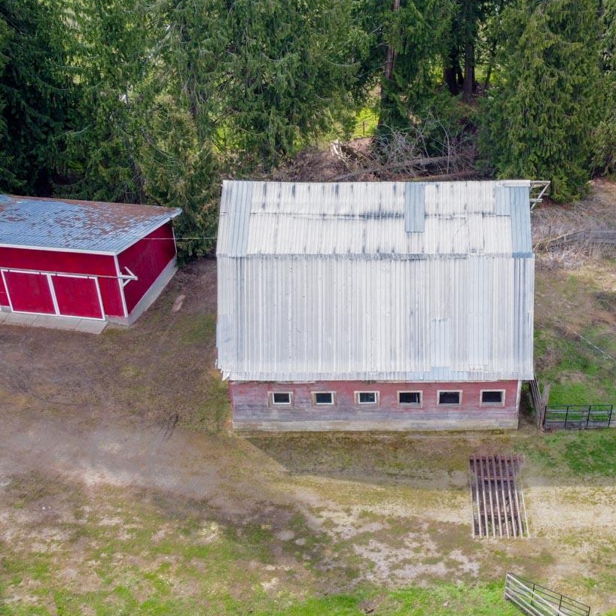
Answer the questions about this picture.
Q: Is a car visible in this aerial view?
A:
No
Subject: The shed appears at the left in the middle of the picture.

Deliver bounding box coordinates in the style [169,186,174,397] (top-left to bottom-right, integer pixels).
[0,199,185,326]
